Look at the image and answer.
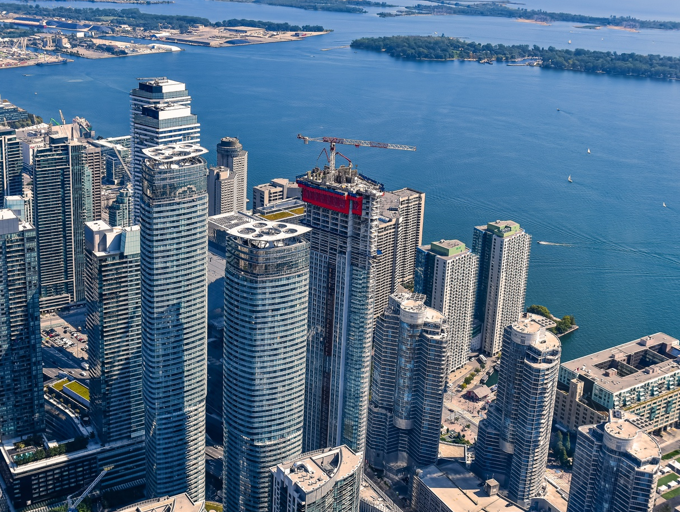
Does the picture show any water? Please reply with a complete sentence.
Yes, there's water in this view.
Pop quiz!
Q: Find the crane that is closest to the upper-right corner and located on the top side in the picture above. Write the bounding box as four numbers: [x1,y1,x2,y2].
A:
[302,131,409,186]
